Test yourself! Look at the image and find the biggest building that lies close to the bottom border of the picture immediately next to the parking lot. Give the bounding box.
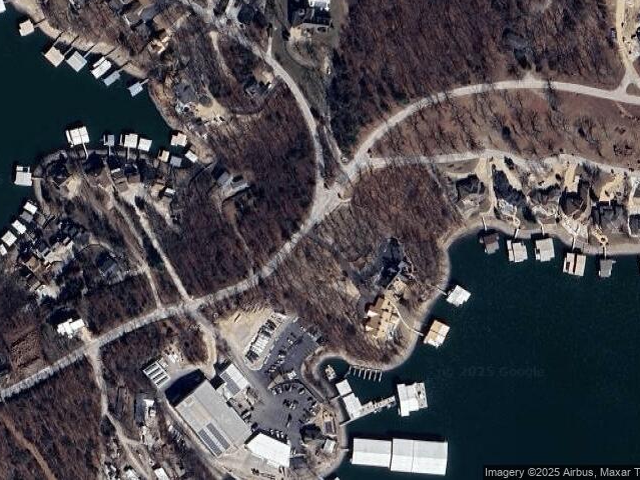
[175,379,251,458]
